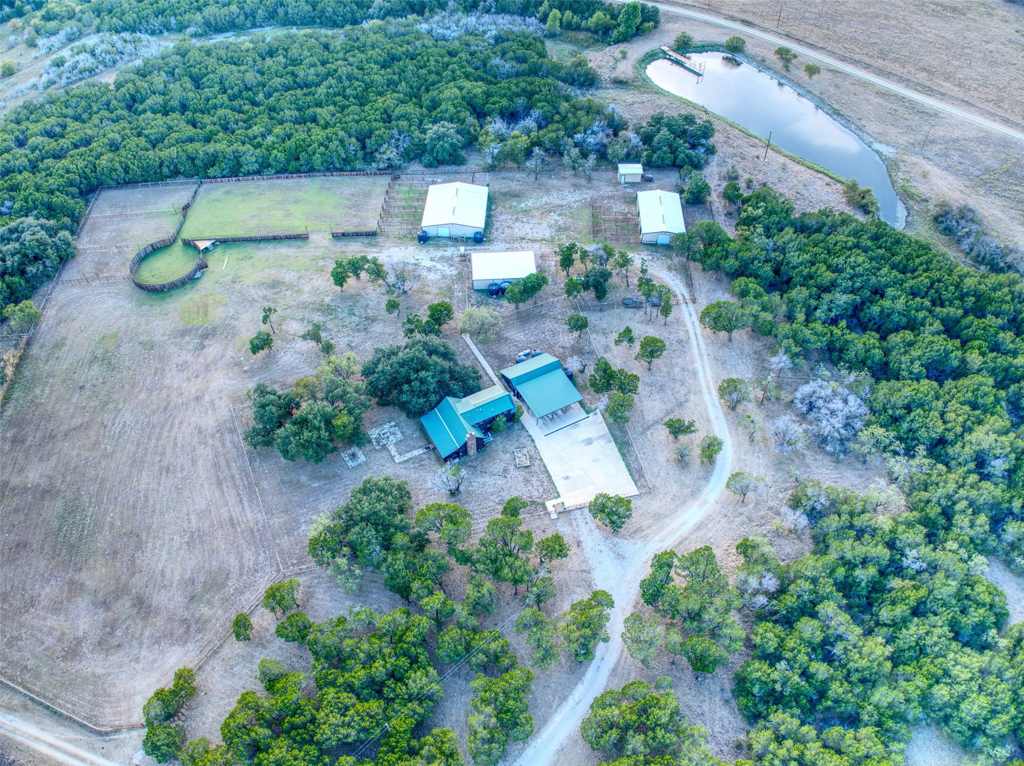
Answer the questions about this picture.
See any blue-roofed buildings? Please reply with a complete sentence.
Yes, a blue-roofed building can be made out from above.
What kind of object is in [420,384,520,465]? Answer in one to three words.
house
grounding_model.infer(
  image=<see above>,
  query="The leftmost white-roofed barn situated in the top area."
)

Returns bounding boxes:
[423,181,487,237]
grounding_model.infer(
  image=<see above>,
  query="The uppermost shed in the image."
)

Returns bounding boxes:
[618,164,643,184]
